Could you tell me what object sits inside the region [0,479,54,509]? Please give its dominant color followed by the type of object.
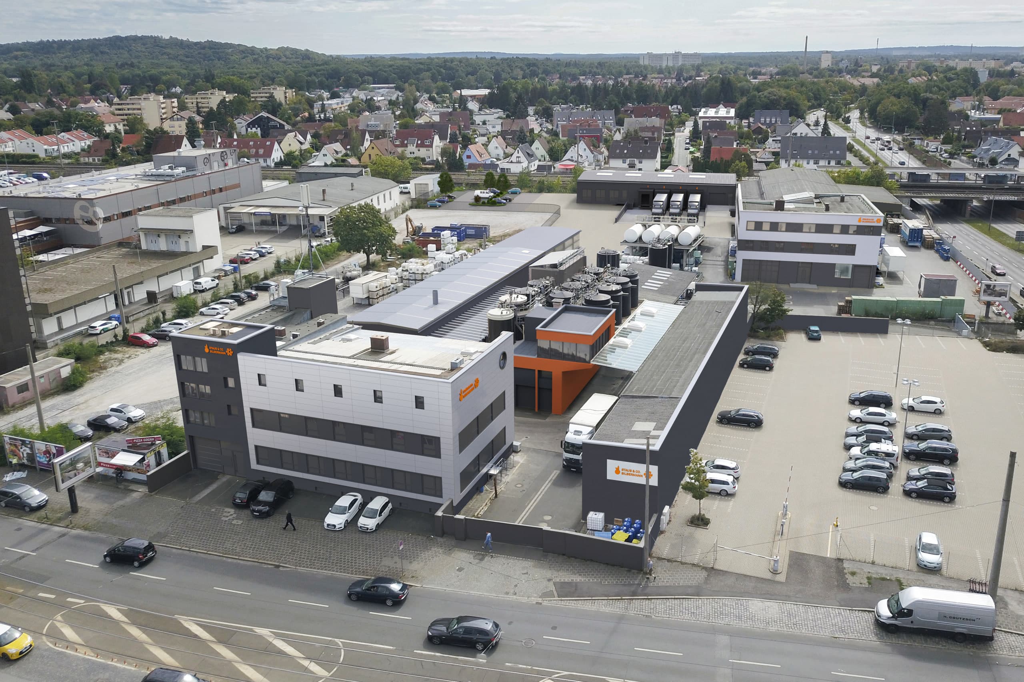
gray car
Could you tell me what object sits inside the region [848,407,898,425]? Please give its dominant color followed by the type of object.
white car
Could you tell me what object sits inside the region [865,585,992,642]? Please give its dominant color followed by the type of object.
gray van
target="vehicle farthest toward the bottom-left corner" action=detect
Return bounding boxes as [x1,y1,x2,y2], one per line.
[0,627,31,661]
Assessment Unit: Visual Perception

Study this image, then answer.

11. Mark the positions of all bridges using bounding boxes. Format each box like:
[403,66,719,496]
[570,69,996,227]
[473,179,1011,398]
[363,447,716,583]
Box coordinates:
[896,178,1024,218]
